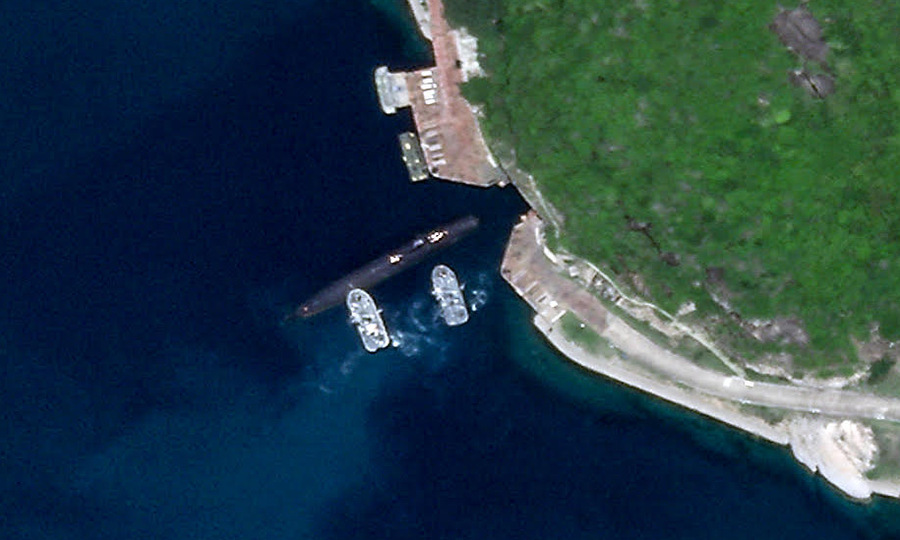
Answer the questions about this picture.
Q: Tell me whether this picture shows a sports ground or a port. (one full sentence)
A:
This looks like a port.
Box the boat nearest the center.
[432,265,468,328]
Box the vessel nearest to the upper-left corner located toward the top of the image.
[399,131,427,181]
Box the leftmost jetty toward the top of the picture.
[375,65,410,115]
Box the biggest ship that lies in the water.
[294,217,478,319]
